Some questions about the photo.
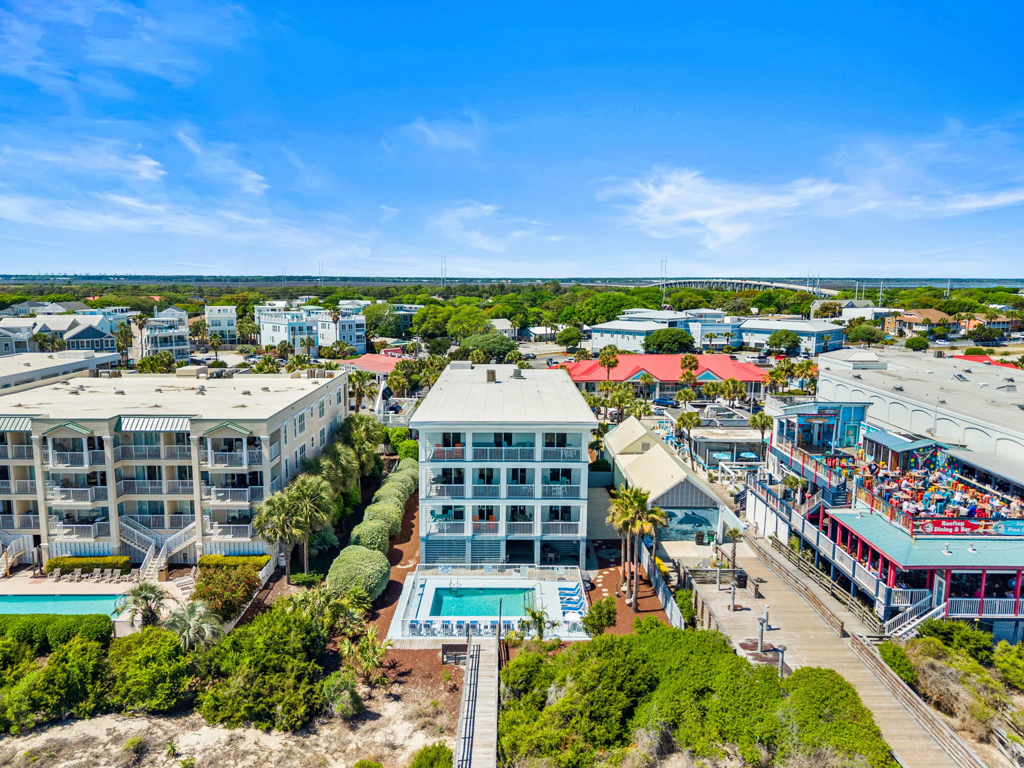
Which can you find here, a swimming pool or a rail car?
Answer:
swimming pool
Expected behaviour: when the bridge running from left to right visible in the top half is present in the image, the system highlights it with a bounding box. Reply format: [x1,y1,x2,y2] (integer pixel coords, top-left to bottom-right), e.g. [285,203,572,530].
[639,279,843,294]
